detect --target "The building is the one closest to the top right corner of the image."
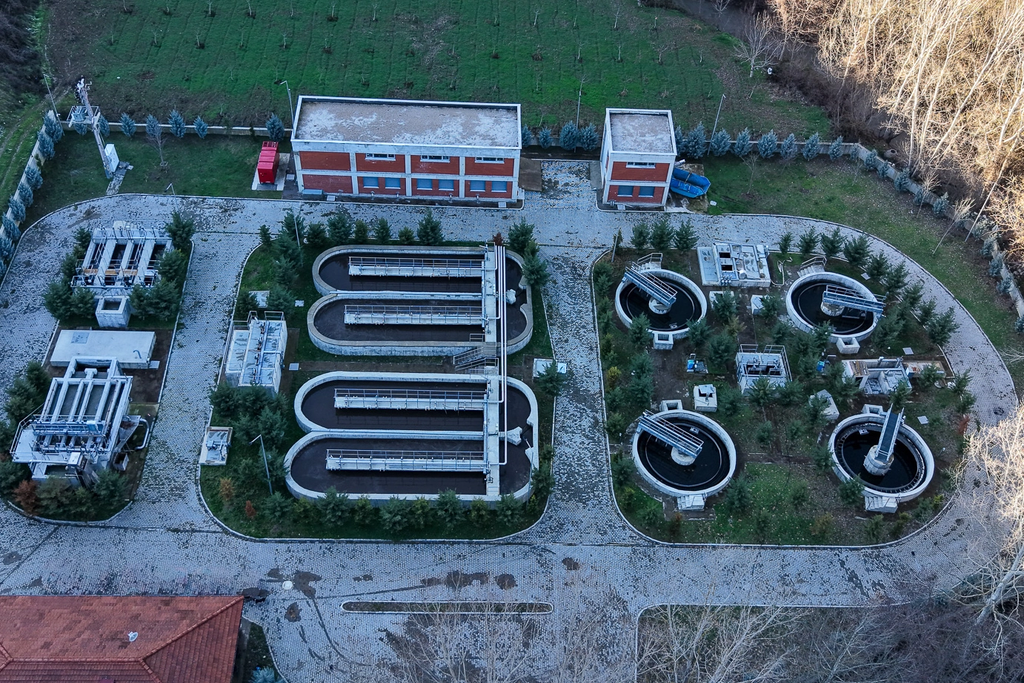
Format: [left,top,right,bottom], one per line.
[602,109,675,205]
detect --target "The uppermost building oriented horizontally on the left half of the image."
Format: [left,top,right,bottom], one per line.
[290,97,521,200]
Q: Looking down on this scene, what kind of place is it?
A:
industrial area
